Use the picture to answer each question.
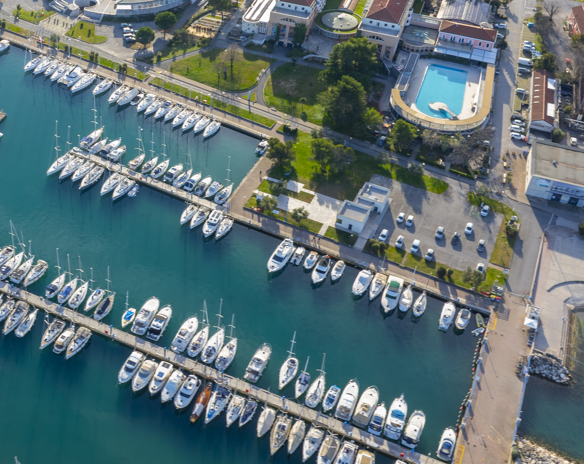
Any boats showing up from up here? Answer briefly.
Yes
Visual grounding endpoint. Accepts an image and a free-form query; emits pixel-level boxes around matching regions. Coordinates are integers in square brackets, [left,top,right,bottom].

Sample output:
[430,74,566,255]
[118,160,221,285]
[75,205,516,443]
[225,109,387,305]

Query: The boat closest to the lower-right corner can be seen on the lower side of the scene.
[437,425,456,464]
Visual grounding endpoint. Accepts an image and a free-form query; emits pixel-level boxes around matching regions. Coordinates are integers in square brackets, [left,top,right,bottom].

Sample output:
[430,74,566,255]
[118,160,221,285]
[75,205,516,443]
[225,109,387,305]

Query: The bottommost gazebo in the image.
[522,315,544,336]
